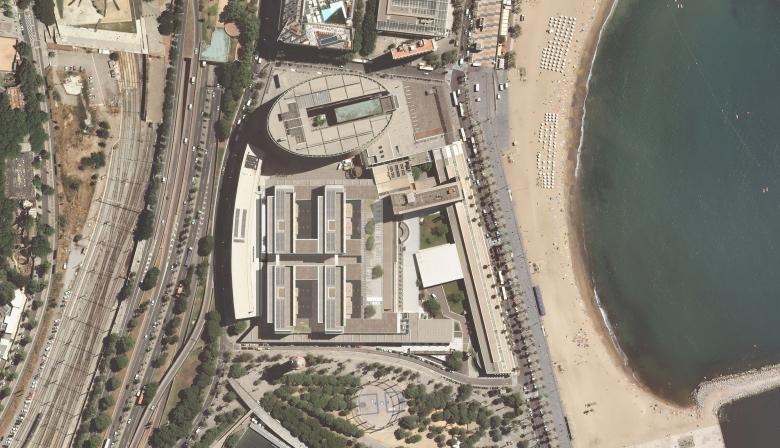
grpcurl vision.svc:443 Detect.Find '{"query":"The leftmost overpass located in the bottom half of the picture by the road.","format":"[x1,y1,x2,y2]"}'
[126,236,216,448]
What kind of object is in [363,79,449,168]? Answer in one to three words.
building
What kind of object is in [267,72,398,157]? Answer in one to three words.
building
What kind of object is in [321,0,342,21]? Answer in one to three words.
swimming pool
